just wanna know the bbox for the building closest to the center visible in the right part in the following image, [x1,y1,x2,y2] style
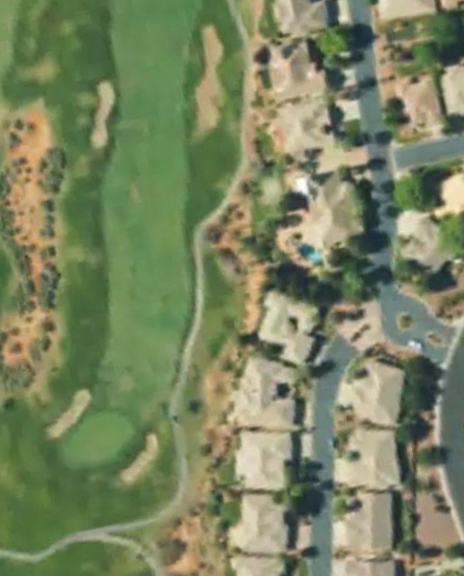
[257,293,319,360]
